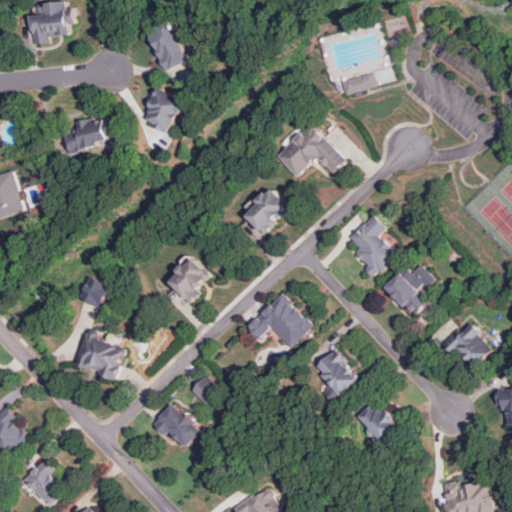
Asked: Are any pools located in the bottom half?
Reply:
No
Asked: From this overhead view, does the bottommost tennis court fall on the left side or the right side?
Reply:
right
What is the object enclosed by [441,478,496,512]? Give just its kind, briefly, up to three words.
house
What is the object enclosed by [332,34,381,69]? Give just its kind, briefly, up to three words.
swimming pool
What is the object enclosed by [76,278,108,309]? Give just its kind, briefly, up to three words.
building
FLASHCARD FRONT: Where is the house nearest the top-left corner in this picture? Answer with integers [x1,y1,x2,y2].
[26,0,73,47]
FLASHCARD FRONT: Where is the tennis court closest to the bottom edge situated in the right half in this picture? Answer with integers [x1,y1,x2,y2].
[481,198,512,242]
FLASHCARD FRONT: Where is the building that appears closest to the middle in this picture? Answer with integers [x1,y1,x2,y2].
[242,189,282,236]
